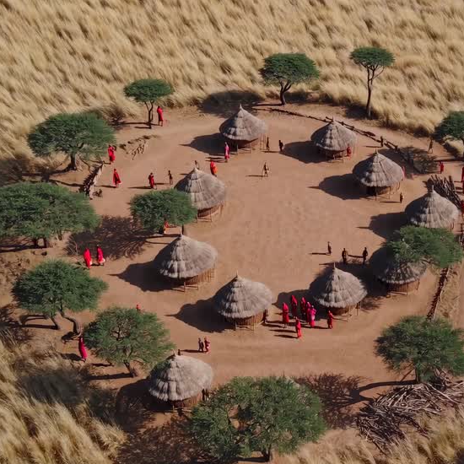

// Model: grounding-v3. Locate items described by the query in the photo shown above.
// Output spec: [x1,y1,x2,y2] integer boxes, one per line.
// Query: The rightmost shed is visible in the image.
[406,181,461,231]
